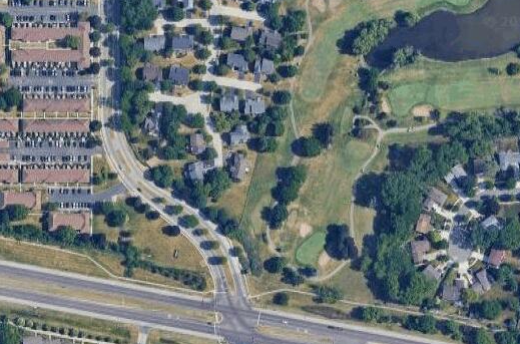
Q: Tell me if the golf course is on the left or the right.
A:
right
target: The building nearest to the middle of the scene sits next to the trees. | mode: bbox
[233,154,251,180]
